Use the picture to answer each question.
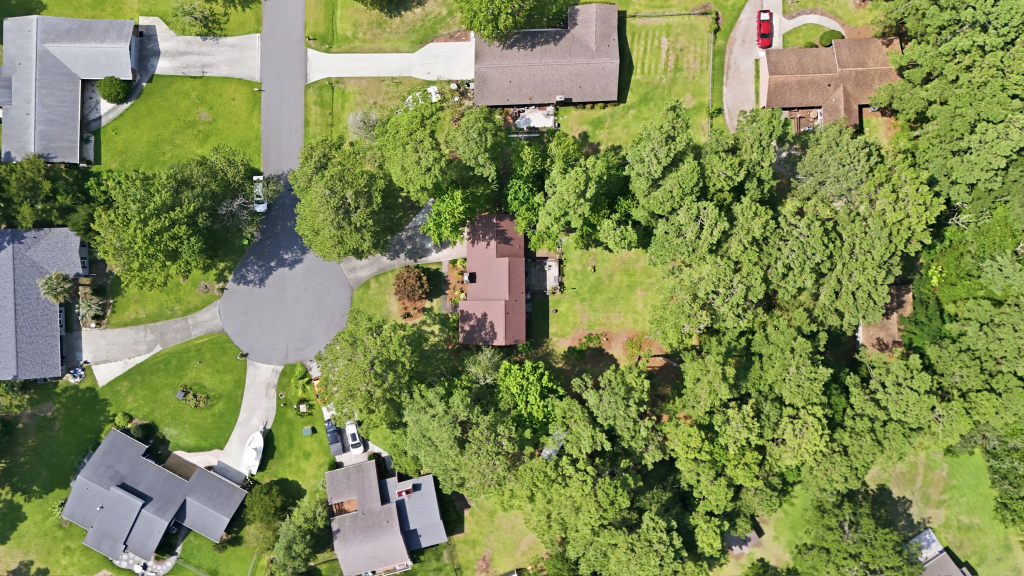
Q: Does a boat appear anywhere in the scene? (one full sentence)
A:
Yes, a boat appears in the view.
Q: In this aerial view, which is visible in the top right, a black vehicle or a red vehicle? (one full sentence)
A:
The one visible in the top right is a red vehicle.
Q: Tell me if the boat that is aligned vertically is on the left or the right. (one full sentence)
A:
The boat that is aligned vertically appears in the left half of the scene.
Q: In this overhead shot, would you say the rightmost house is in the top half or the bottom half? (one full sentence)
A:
The rightmost house sits in the bottom half of the picture.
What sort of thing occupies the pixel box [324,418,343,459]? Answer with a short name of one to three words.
vehicle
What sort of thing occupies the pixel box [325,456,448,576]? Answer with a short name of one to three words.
house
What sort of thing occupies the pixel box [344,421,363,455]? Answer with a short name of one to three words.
car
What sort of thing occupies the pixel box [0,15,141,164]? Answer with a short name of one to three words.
house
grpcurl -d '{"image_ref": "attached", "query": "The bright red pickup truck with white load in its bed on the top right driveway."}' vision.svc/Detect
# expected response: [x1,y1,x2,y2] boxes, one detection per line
[758,8,775,47]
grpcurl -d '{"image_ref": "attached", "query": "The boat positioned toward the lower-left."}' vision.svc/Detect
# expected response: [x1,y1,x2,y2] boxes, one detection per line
[239,430,263,482]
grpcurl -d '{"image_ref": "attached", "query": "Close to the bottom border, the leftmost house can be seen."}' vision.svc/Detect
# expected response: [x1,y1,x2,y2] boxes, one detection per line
[61,428,248,562]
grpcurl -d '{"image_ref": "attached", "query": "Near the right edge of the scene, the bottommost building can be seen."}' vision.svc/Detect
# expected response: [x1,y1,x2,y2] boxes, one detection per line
[904,525,973,576]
